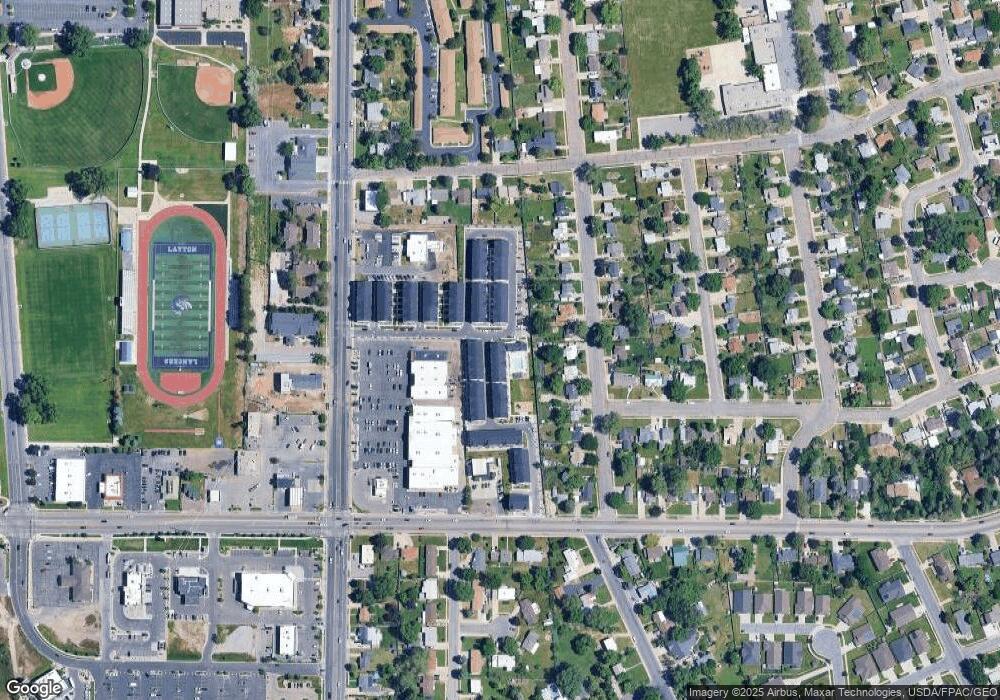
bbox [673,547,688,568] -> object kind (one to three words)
house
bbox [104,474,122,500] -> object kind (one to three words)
building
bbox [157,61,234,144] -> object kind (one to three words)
baseball field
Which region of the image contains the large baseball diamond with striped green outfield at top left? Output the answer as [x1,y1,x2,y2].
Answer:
[13,49,143,167]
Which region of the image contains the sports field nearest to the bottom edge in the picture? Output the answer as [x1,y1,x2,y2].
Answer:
[148,216,216,397]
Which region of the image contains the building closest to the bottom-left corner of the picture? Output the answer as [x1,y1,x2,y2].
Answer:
[21,670,69,700]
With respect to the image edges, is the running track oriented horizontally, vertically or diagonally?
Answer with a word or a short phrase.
vertically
